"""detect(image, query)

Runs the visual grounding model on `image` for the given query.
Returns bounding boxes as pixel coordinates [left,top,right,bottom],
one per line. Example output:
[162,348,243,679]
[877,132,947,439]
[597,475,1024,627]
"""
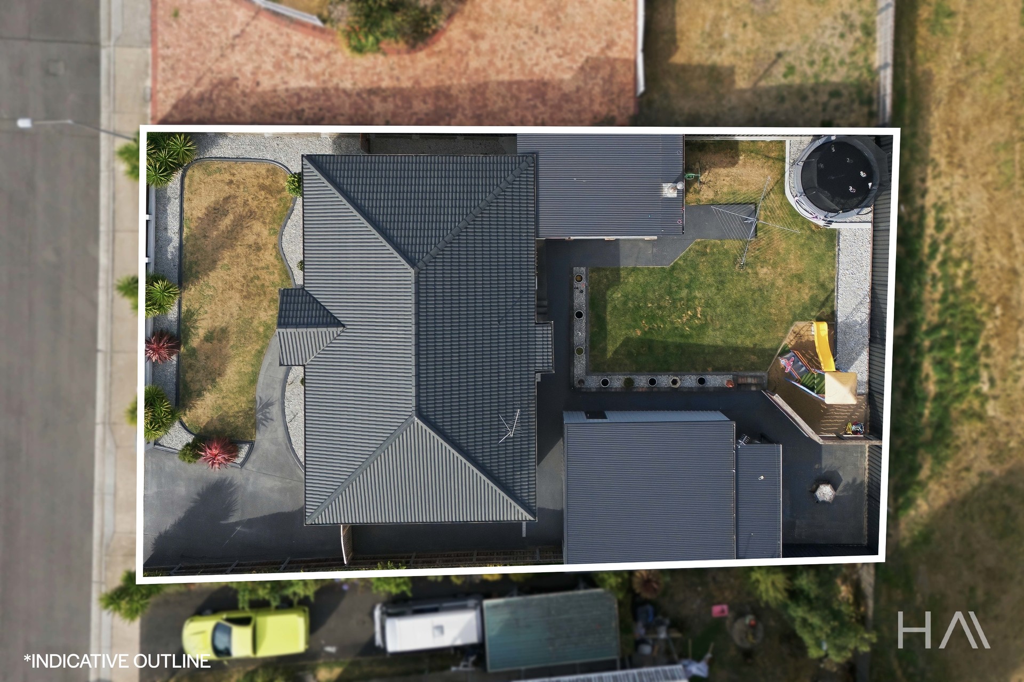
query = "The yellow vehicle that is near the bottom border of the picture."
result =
[184,600,310,665]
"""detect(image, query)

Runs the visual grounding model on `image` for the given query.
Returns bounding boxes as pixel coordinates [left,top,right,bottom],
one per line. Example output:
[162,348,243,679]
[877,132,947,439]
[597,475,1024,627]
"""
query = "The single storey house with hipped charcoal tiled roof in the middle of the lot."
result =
[273,152,555,536]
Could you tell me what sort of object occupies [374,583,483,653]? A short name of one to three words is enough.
van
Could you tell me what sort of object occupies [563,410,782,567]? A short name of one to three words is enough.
building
